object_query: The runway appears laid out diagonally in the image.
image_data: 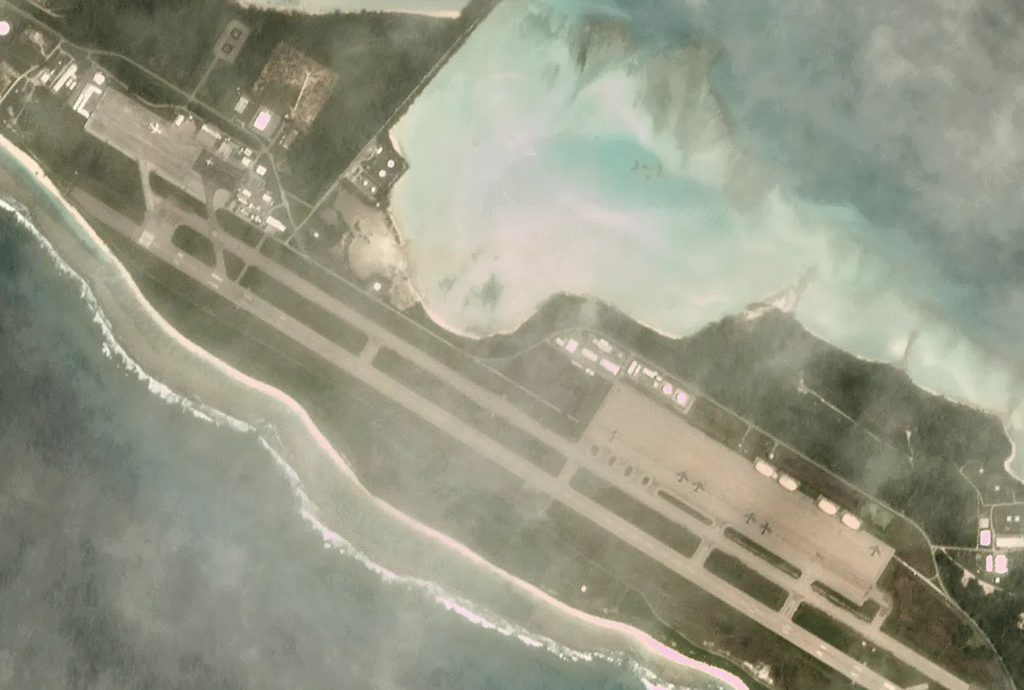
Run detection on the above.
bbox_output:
[140,231,902,690]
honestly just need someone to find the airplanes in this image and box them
[869,546,879,556]
[149,122,160,132]
[744,514,754,523]
[677,473,687,483]
[693,482,702,492]
[759,524,769,534]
